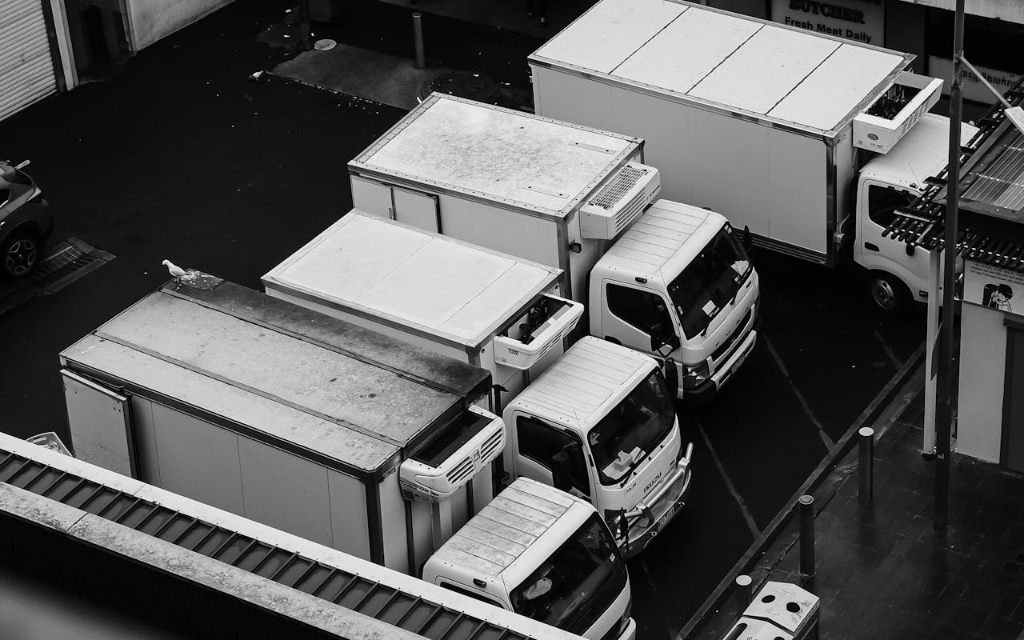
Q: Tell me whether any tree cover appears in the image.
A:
No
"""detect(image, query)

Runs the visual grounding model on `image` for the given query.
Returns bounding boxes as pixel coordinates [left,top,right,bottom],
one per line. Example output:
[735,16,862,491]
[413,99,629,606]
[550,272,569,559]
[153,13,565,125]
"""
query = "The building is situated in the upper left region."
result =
[0,0,229,116]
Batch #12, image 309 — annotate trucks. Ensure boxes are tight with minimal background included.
[52,266,648,640]
[526,0,1018,326]
[259,207,704,567]
[346,92,769,408]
